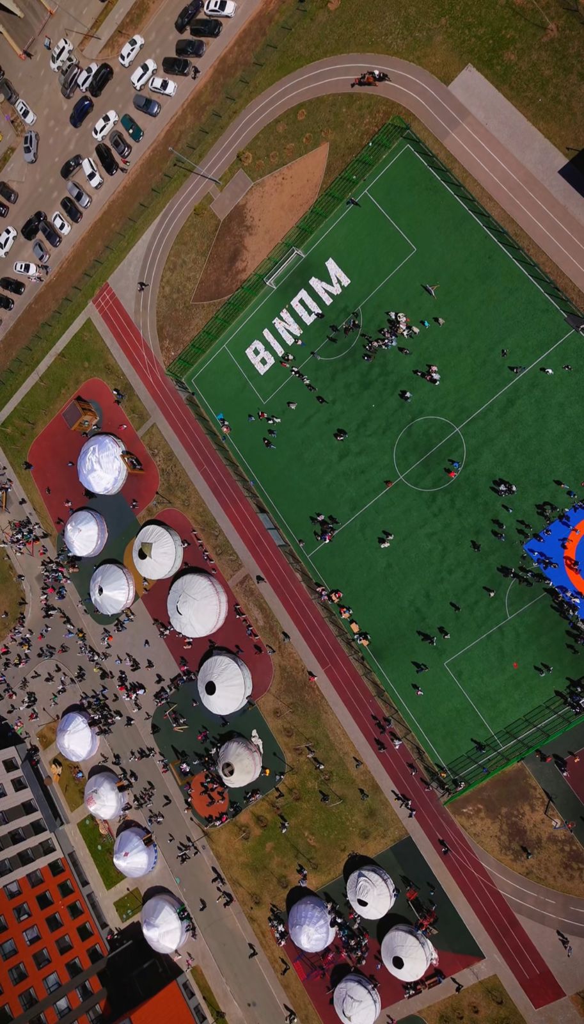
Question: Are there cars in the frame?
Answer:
Yes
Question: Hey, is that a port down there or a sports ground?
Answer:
sports ground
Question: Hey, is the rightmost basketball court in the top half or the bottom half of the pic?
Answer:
bottom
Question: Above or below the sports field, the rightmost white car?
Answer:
above it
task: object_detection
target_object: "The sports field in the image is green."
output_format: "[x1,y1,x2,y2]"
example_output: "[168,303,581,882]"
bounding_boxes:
[182,131,584,795]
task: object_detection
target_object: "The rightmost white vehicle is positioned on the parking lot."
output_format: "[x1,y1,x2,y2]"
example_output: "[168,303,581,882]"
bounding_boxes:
[204,0,236,20]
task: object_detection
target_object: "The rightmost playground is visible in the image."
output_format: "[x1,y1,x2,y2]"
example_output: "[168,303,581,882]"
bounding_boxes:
[269,836,486,1024]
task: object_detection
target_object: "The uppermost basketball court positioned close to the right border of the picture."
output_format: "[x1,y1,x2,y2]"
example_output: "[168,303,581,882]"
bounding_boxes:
[523,724,584,848]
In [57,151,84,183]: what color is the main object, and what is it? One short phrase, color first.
black car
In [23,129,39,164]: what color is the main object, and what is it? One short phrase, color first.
gray car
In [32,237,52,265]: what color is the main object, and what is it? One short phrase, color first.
gray car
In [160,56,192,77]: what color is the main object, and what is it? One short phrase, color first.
black car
